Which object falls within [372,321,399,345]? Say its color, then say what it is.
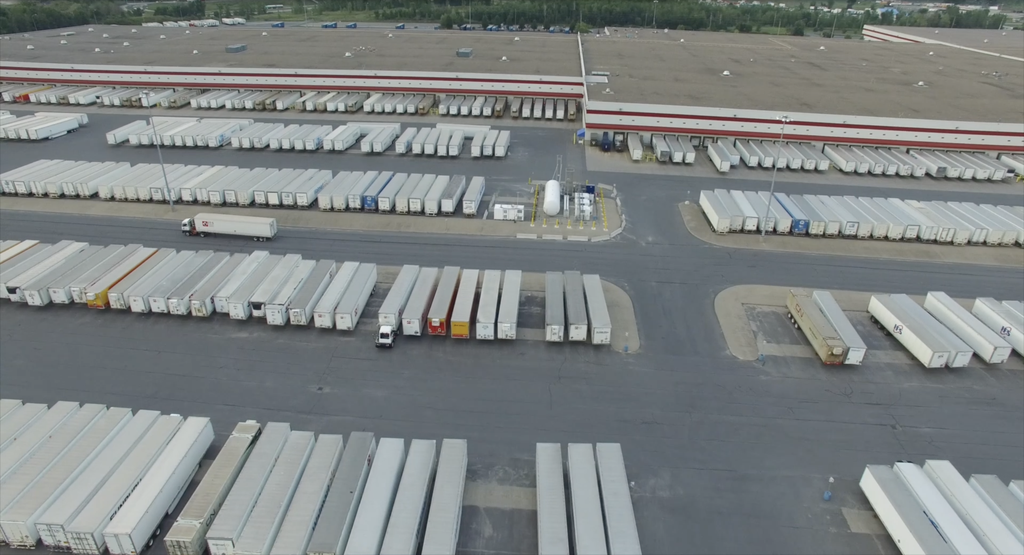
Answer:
white truck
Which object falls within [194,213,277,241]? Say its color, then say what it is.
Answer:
white trailer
